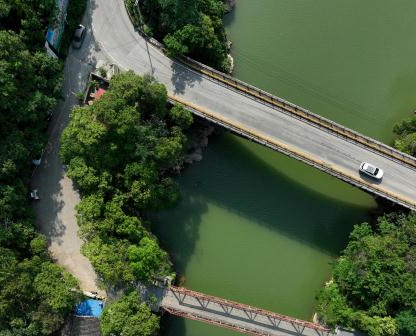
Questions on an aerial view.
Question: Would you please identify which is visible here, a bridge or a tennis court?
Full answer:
There is a bridge in the scene.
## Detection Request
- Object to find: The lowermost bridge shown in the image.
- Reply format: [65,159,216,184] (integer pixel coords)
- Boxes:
[153,285,341,336]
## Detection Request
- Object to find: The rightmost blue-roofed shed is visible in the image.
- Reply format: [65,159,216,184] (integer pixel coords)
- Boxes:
[74,298,105,317]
